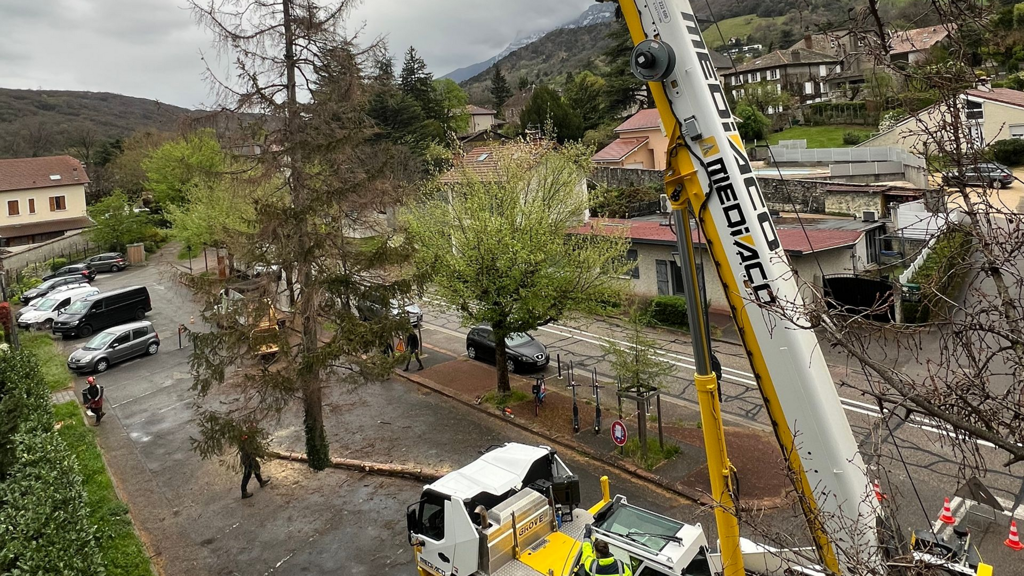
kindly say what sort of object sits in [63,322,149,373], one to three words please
car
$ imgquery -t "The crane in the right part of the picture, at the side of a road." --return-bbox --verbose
[406,0,994,576]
